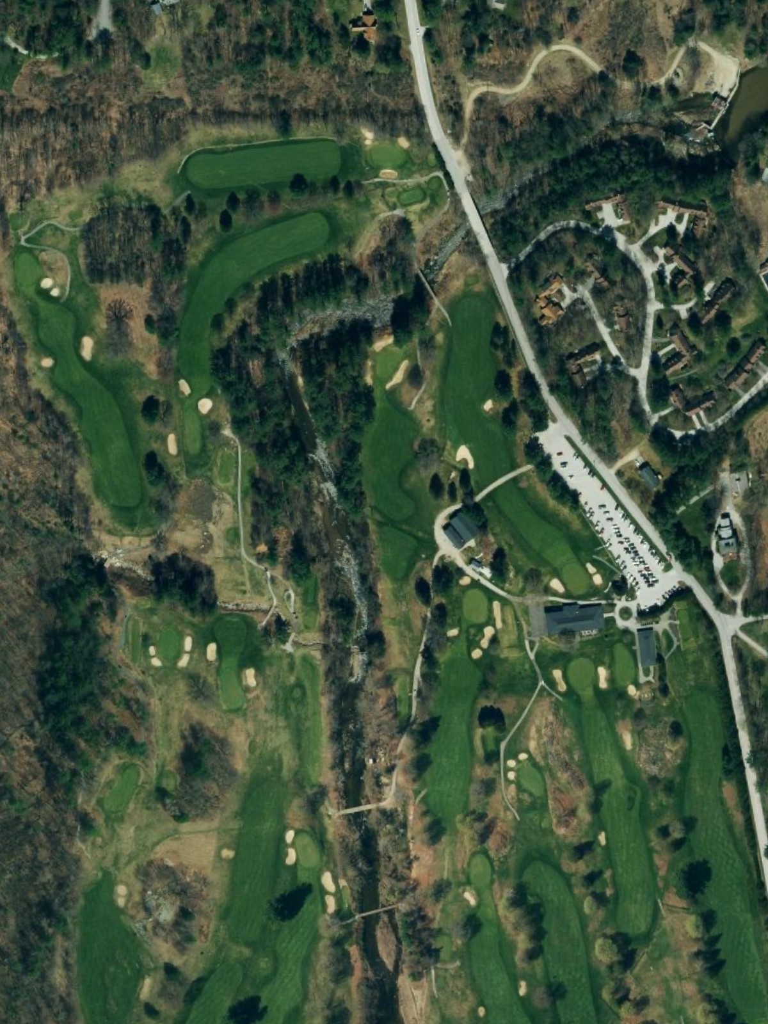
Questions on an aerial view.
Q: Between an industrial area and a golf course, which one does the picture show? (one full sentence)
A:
This image shows a golf course.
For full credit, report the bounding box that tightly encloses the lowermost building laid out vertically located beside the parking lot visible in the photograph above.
[637,627,659,667]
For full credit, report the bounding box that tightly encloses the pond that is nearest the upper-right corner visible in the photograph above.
[713,62,768,156]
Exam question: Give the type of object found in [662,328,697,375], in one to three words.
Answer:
house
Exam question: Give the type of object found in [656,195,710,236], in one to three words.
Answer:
house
